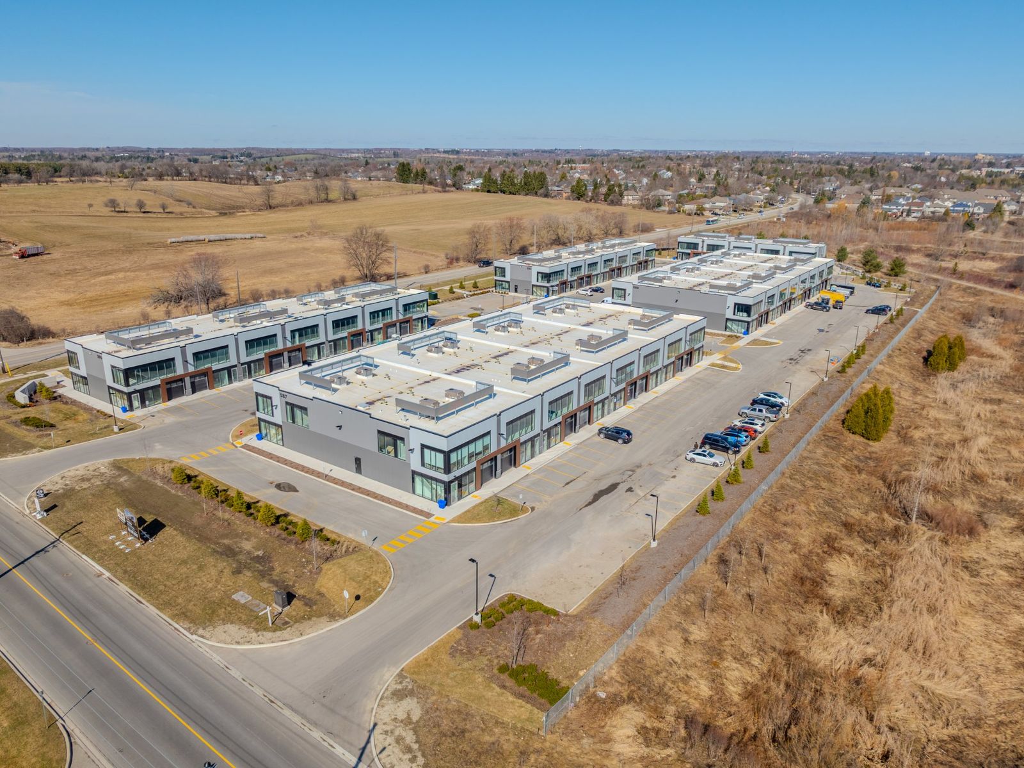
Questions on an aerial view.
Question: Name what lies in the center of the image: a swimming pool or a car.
car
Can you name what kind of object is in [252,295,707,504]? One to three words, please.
building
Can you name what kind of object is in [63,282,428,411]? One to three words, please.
building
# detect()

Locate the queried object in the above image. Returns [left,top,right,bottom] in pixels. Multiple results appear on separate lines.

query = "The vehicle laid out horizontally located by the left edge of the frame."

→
[12,243,45,258]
